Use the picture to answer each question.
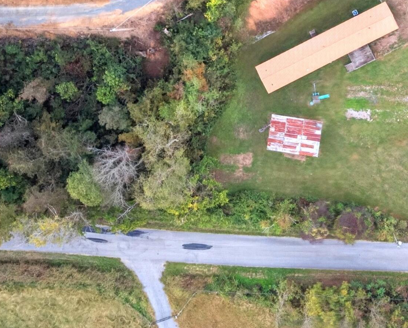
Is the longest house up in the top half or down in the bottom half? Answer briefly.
top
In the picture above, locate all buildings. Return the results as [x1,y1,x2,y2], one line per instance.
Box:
[267,114,323,156]
[256,2,398,93]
